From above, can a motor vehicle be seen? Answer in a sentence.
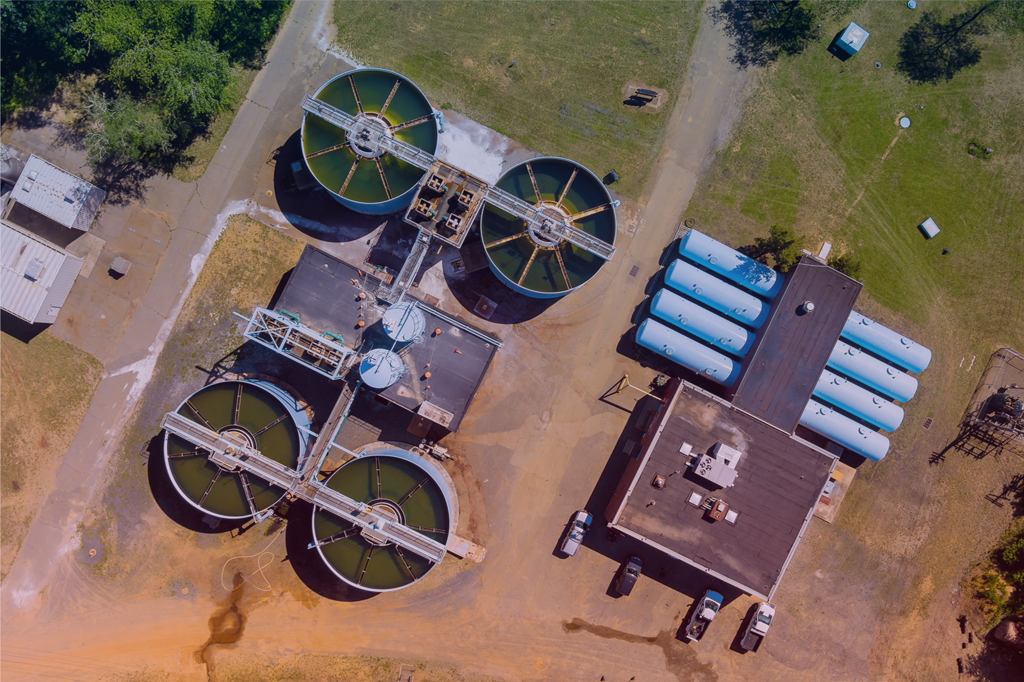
Yes, the picture does show a motor vehicle.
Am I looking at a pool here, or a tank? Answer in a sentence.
It is a tank that can be seen here.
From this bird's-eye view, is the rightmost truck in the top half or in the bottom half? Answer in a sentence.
It is in the bottom half that the rightmost truck appears.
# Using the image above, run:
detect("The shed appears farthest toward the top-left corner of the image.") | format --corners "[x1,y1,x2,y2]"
[9,153,107,230]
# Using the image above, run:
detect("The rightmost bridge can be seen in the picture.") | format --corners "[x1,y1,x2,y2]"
[484,183,617,260]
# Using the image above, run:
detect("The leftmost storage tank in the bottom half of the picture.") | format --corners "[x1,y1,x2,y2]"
[156,372,322,523]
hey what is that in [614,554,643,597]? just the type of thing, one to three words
car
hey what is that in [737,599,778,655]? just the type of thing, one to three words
truck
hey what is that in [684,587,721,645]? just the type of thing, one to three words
truck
